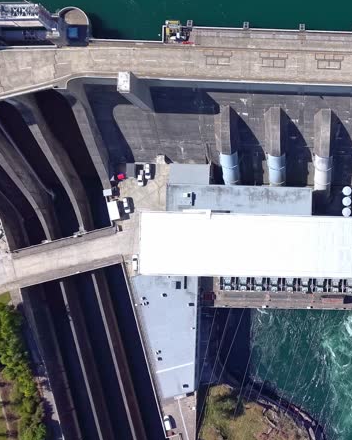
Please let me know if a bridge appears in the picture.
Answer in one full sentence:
Yes, I can see a bridge in this picture.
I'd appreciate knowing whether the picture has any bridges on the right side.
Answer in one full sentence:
No, there is no bridge on the right side.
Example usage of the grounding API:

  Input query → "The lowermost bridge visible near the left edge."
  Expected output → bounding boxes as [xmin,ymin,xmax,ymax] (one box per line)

[11,225,125,289]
